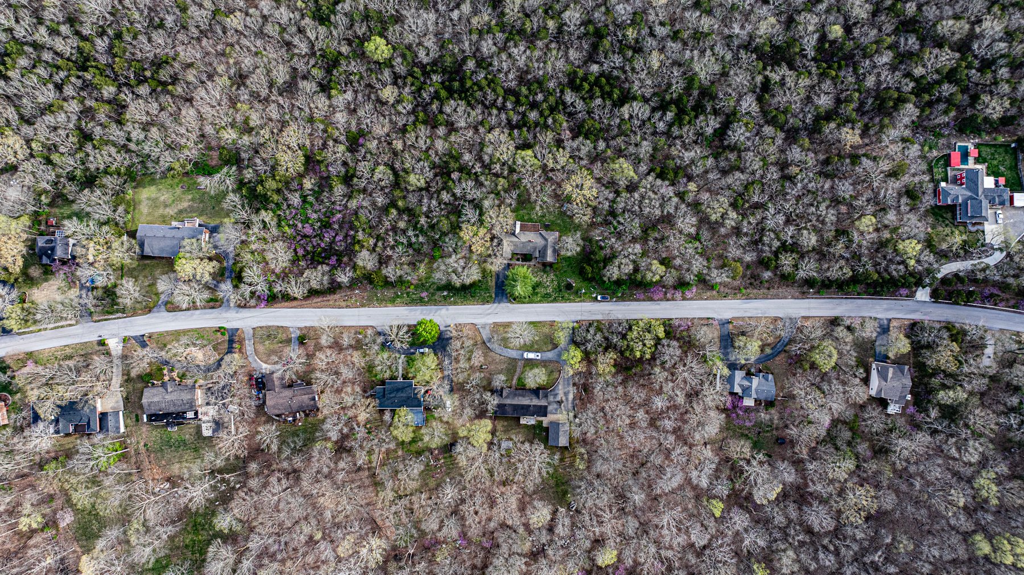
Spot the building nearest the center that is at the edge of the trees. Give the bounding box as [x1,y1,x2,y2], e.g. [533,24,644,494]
[501,222,558,262]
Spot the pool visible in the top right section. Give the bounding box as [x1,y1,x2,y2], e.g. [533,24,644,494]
[956,142,975,168]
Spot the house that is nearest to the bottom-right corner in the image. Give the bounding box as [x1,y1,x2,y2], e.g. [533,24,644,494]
[870,363,912,414]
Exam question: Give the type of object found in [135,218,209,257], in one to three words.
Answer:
house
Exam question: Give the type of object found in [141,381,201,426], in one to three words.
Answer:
house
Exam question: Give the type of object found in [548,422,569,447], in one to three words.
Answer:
building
